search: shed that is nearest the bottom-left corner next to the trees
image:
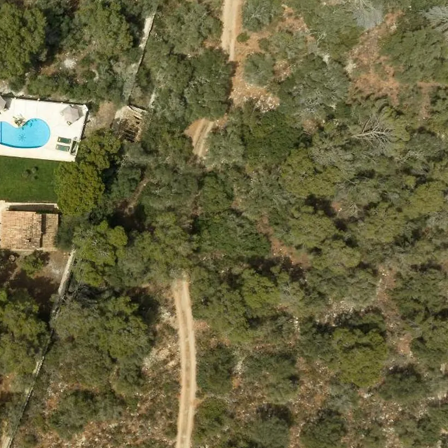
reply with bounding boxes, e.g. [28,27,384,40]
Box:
[1,211,58,250]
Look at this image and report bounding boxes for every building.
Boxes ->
[1,211,58,250]
[112,103,151,148]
